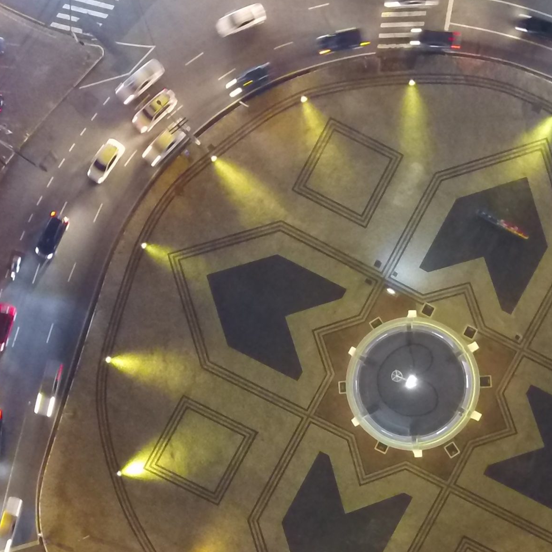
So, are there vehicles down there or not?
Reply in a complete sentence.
Yes, a vehicle can be made out from above.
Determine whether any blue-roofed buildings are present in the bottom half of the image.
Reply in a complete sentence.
No, looking in the bottom half of the image, there is no blue-roofed building.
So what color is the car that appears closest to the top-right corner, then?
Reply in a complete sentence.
The car that appears closest to the top-right corner looks black in the image.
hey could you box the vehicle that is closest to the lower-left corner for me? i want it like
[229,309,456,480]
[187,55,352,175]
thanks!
[0,499,24,545]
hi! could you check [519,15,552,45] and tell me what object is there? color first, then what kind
black car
